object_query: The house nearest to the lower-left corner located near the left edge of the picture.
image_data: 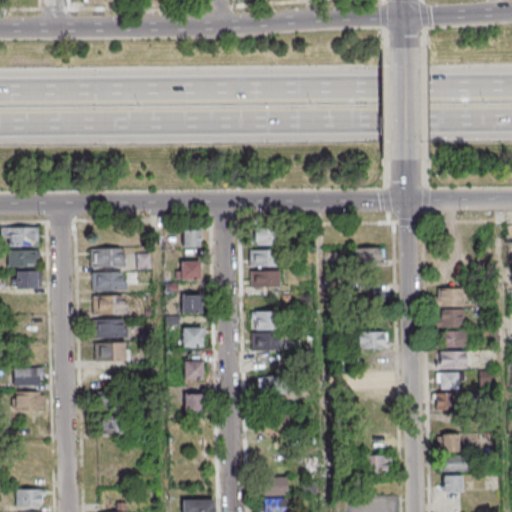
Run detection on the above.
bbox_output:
[16,488,46,510]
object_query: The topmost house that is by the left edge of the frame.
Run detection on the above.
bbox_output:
[2,226,40,248]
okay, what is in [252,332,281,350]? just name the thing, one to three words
house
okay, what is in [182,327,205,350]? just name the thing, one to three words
house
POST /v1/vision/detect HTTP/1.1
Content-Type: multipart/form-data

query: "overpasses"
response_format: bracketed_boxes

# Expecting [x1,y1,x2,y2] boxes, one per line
[384,28,428,186]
